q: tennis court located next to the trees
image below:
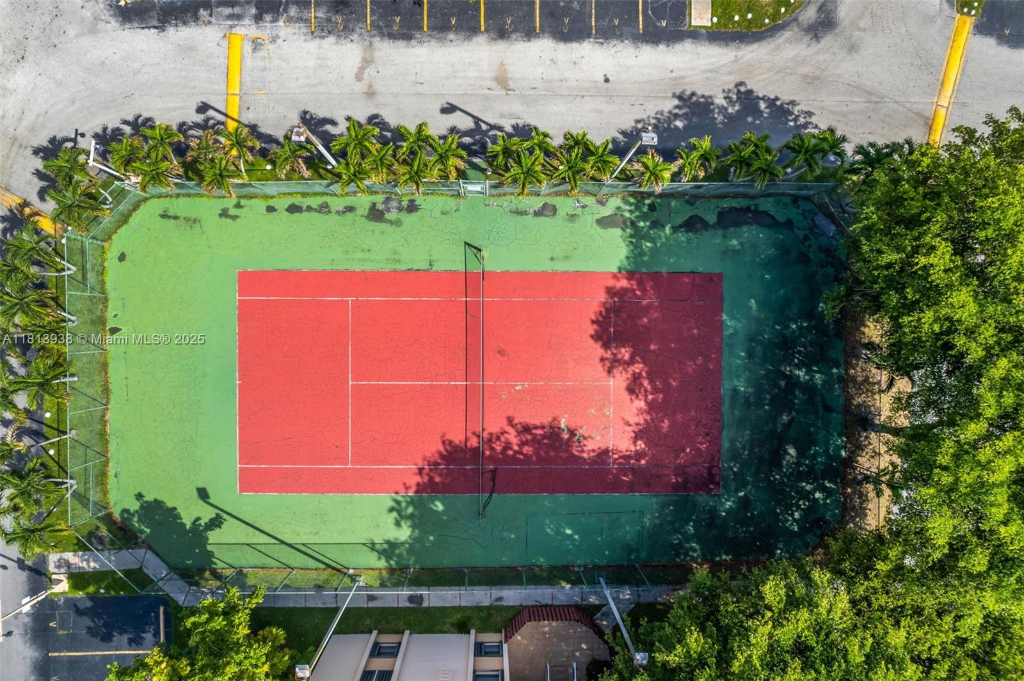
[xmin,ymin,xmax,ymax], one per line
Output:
[106,194,846,570]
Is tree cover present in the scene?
Yes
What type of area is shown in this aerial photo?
sports ground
